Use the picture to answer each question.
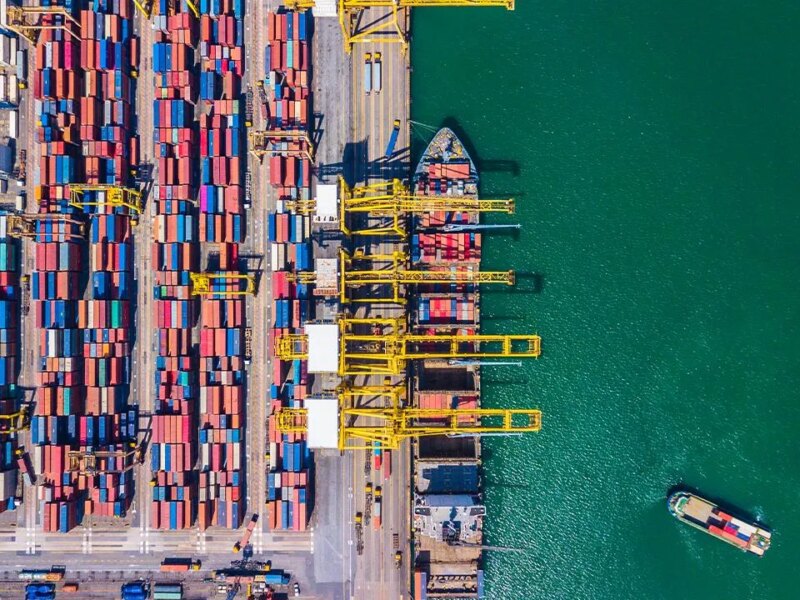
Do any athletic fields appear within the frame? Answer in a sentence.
No, the photo shows no athletic field.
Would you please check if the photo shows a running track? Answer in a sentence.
No, no running track is visible in the scene.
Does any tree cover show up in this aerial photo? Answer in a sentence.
No, there is no tree cover in the image.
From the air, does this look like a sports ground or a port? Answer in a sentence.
The picture captures a port.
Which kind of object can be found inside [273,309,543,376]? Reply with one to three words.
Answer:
container crane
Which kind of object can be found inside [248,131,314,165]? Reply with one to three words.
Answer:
container crane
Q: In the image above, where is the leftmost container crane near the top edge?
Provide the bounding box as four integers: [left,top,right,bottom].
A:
[4,6,81,48]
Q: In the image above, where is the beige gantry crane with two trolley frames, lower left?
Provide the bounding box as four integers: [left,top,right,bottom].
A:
[68,441,143,475]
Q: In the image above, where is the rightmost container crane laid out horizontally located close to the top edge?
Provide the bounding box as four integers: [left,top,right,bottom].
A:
[284,0,515,63]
